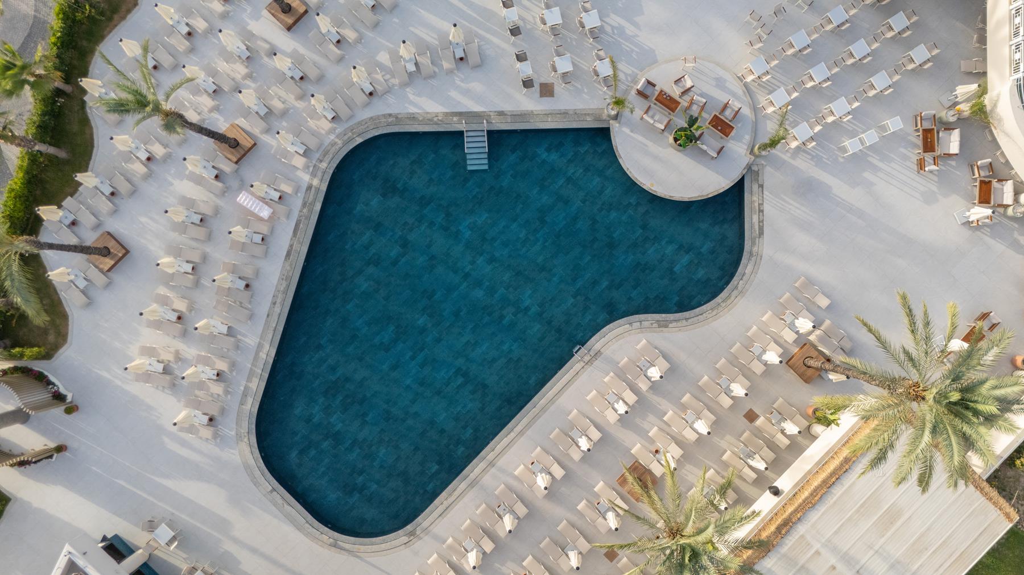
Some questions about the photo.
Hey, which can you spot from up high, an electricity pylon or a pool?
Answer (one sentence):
It is a pool that can be seen here.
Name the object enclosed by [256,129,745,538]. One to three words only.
swimming pool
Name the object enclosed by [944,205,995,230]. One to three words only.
umbrella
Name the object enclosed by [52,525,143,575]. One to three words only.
shed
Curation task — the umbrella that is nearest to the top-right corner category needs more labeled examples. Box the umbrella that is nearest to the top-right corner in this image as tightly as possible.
[931,83,981,111]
